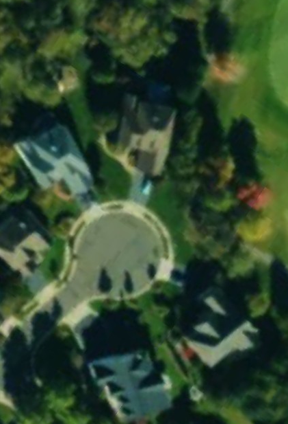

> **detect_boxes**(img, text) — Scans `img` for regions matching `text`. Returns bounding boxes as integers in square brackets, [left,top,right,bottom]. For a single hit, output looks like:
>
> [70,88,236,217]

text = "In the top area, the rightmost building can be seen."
[116,81,178,180]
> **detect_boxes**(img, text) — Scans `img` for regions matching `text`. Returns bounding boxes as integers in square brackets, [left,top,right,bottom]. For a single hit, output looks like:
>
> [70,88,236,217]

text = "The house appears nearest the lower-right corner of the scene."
[186,287,258,368]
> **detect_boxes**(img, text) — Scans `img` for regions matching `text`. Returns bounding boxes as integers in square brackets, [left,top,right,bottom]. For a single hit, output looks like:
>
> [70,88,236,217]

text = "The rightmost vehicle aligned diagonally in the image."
[170,268,185,282]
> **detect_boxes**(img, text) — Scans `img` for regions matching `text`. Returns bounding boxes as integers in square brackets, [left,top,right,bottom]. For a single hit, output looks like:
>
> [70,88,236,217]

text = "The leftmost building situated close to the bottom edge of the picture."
[85,349,177,423]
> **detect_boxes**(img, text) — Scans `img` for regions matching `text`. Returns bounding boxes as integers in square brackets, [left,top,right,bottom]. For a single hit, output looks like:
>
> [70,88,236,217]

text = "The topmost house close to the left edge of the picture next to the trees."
[12,120,97,199]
